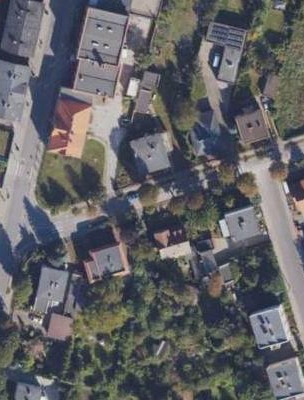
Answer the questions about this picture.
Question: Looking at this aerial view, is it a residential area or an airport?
residential area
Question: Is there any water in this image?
No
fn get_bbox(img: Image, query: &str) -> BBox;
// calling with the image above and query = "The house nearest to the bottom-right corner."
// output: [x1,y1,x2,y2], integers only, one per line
[266,357,304,400]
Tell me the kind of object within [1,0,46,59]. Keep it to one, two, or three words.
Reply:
house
